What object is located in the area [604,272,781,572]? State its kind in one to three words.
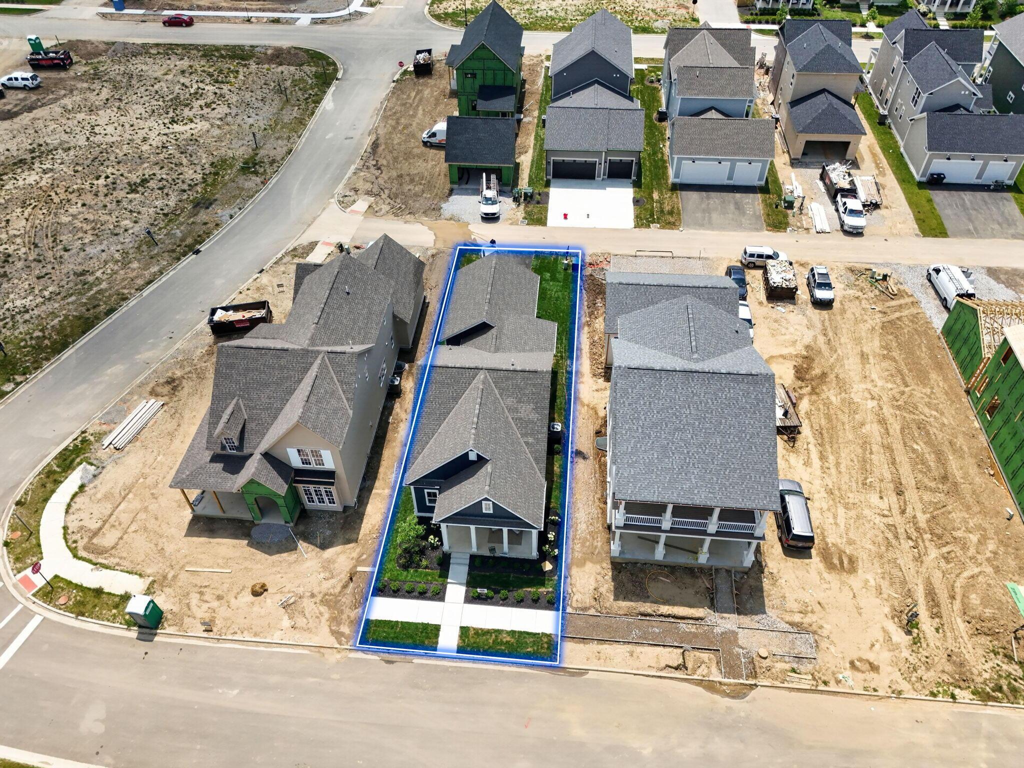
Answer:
house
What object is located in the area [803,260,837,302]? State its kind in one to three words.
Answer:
car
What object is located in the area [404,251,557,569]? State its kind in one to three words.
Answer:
house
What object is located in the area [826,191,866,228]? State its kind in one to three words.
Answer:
truck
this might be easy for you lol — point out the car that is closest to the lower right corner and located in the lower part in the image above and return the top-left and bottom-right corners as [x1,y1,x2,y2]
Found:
[778,479,818,547]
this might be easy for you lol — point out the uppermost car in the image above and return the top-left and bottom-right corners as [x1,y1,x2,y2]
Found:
[162,14,195,27]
